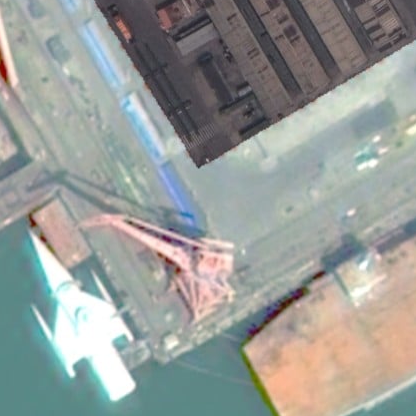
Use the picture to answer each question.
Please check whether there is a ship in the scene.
Yes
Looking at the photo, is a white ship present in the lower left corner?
Yes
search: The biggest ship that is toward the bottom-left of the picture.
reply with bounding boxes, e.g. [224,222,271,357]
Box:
[30,229,136,402]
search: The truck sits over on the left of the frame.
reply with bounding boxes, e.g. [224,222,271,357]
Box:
[110,9,133,40]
